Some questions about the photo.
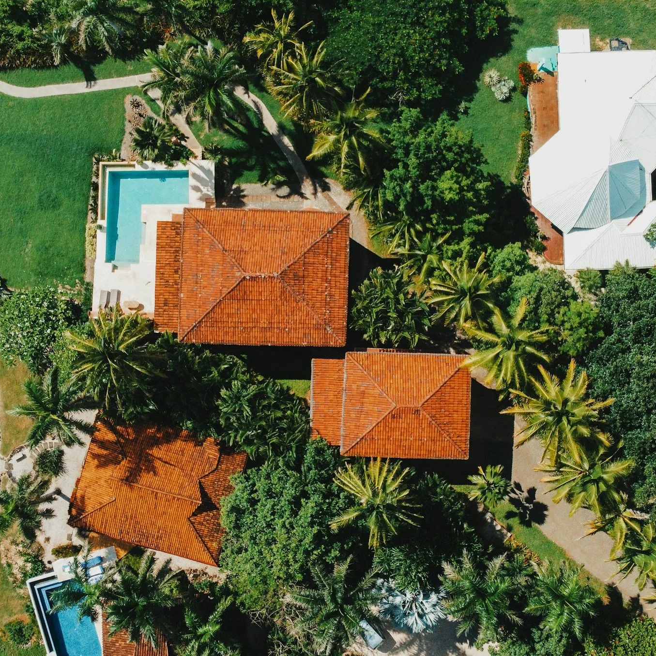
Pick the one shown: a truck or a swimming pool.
swimming pool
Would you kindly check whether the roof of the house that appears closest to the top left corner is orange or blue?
orange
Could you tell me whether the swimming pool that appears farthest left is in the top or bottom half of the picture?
bottom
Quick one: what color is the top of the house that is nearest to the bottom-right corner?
orange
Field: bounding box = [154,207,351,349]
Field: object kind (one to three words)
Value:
house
